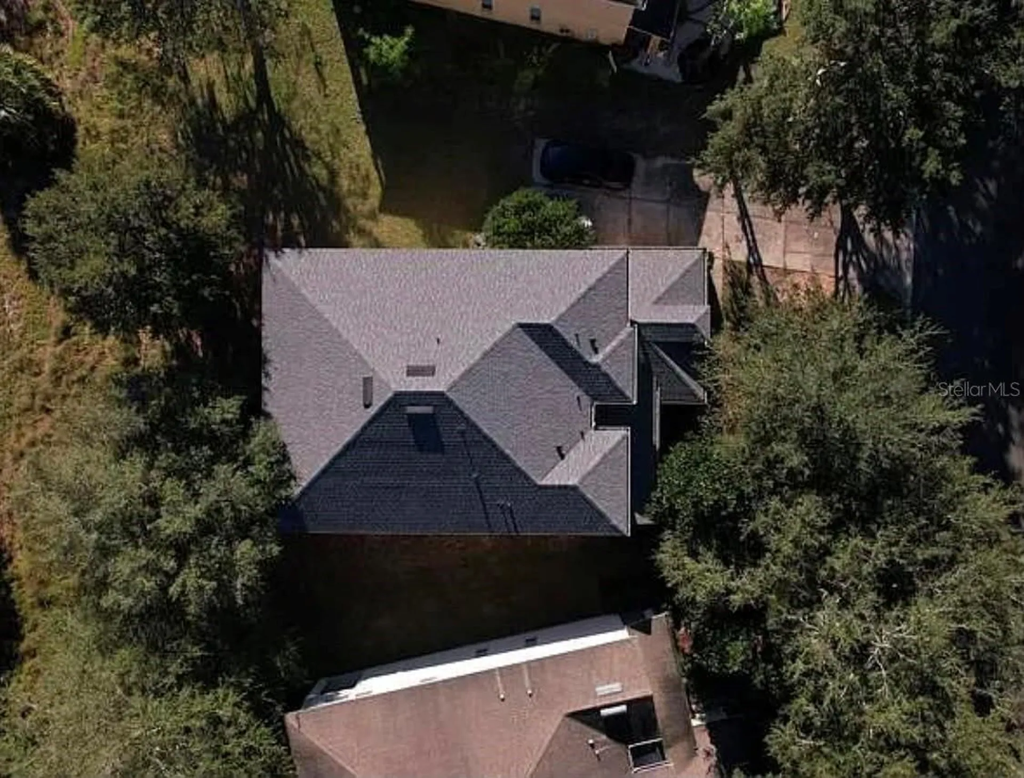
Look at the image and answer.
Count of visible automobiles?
1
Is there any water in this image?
No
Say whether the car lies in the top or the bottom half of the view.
top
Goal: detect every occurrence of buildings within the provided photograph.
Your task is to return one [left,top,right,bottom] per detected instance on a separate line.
[413,0,680,70]
[274,599,734,778]
[261,246,714,537]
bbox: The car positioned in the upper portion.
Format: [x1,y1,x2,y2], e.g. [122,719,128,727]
[538,133,640,186]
